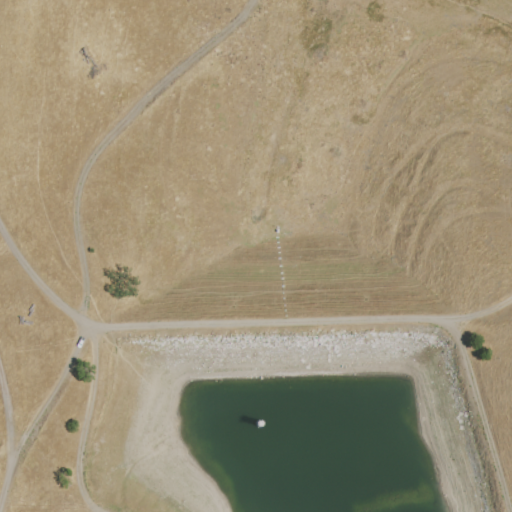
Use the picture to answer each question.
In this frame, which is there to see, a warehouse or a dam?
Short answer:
dam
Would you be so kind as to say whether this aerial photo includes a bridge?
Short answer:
No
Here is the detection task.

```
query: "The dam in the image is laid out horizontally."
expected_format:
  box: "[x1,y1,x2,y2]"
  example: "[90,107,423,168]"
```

[118,232,460,382]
